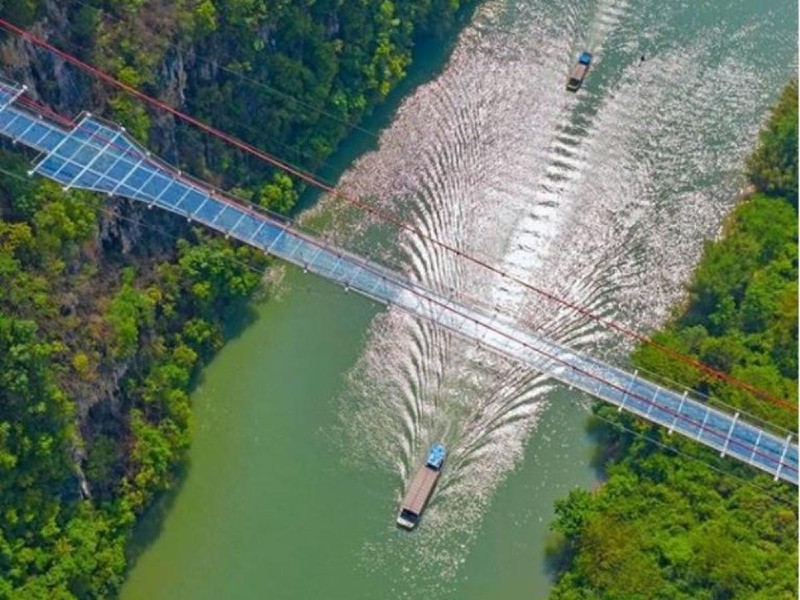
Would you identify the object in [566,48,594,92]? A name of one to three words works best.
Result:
boat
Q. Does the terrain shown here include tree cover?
Yes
